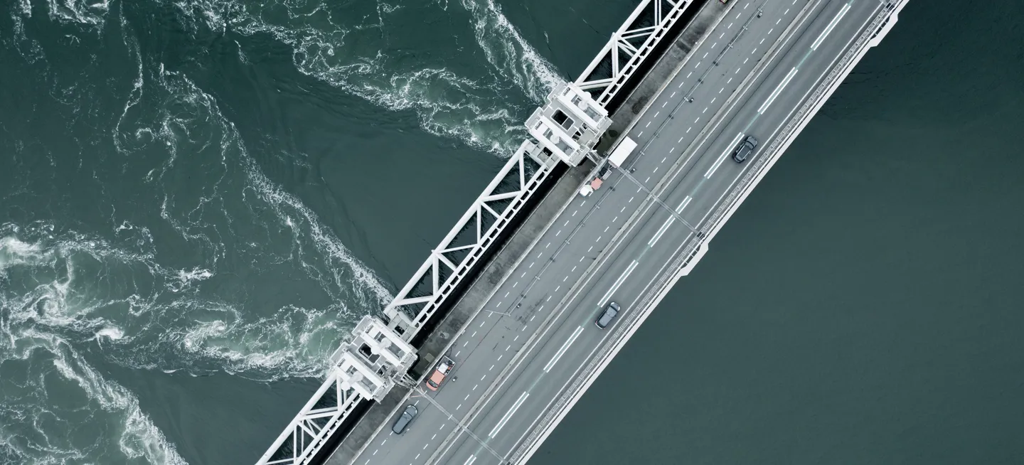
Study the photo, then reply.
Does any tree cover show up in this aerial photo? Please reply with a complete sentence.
No, tree cover can't be seen anywhere here.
